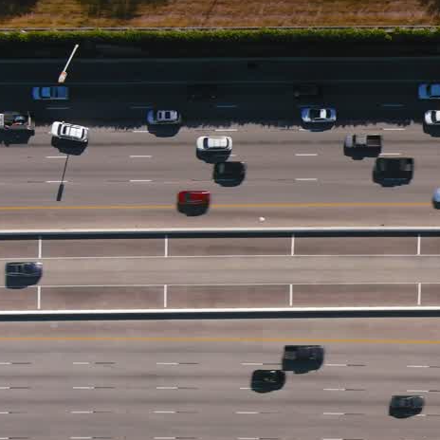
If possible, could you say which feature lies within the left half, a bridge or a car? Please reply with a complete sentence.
You can see a car within the left half.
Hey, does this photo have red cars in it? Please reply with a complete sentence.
Yes, the picture does show a red car.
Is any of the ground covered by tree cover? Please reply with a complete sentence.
No, there is no tree cover in the image.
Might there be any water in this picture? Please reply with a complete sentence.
No, no water is visible.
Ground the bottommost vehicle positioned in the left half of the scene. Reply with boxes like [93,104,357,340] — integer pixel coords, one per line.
[6,261,45,276]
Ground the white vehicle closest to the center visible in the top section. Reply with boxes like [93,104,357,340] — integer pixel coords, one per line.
[197,135,235,151]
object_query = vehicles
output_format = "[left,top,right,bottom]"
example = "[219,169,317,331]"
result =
[217,162,248,177]
[179,189,212,205]
[197,135,235,151]
[345,132,383,148]
[33,84,71,101]
[148,108,184,125]
[301,108,337,122]
[51,122,91,141]
[376,159,415,176]
[391,396,425,409]
[253,371,286,385]
[419,82,440,98]
[434,189,440,202]
[426,109,440,125]
[6,261,45,276]
[282,345,325,362]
